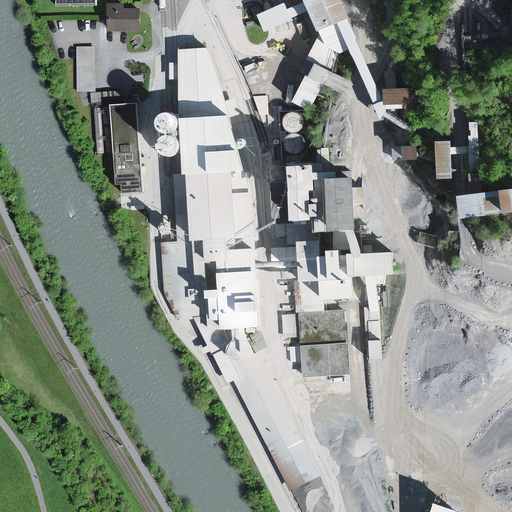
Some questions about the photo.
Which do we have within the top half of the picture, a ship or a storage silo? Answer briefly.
storage silo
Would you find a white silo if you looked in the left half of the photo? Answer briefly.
Yes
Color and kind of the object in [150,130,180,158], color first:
white silo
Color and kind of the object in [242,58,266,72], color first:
white vehicle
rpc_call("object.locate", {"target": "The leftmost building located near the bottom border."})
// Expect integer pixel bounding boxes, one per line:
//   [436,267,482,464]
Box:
[230,364,320,491]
